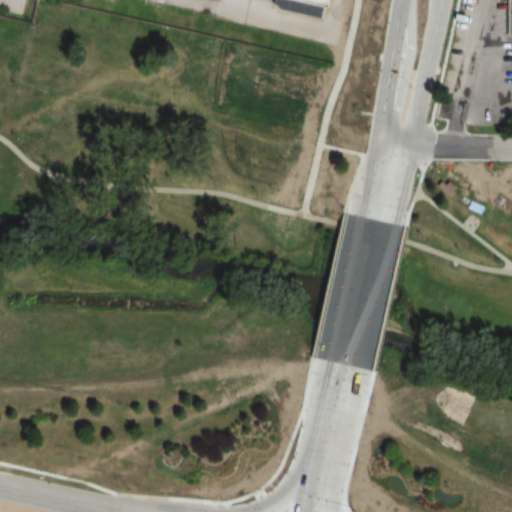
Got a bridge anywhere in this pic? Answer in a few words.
Yes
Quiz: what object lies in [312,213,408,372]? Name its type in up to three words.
bridge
